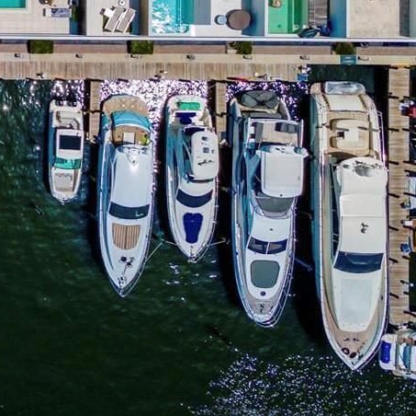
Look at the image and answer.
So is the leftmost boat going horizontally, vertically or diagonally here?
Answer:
vertically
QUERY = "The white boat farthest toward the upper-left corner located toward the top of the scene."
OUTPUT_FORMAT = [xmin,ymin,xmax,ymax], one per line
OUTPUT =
[48,95,86,205]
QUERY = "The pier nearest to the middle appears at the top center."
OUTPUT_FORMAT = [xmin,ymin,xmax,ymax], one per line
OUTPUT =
[209,82,228,139]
